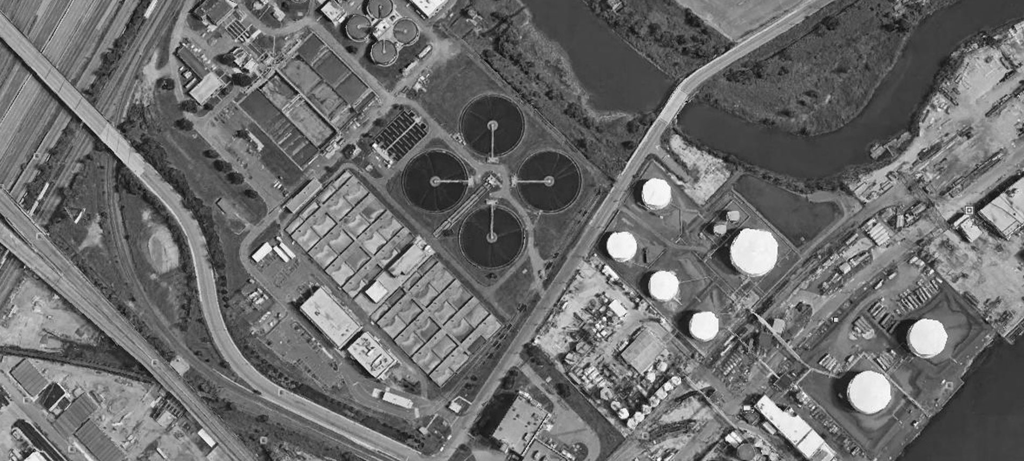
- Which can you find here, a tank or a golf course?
tank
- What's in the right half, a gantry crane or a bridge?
bridge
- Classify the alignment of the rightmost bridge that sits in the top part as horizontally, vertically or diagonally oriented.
diagonally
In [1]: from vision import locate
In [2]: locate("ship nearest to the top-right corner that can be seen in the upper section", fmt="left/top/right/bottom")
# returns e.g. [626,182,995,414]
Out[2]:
[883,128,909,151]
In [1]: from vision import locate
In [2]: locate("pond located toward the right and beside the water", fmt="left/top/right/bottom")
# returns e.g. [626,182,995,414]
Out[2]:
[733,174,841,245]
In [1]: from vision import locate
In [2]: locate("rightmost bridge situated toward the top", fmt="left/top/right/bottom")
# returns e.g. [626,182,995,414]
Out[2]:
[657,74,712,120]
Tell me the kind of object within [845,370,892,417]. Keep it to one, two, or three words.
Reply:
storage tank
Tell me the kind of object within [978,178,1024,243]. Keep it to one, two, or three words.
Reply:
hangar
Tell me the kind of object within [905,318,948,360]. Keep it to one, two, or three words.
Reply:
storage tank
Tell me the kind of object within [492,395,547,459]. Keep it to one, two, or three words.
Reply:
building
